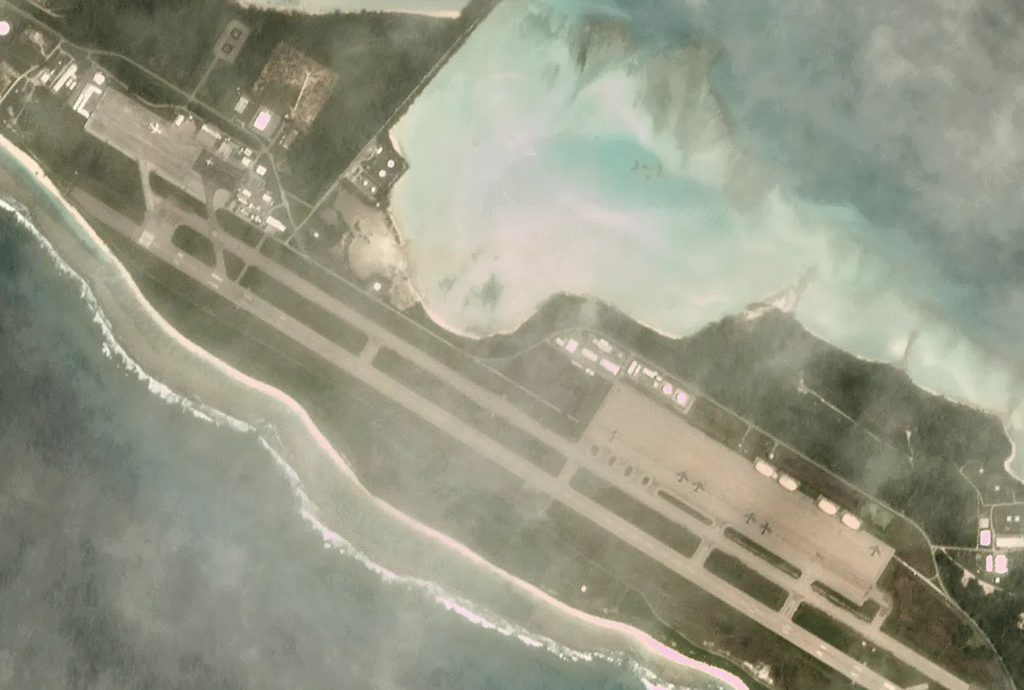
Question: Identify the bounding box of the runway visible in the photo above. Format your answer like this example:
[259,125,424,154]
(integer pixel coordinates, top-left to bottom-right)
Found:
[140,231,902,690]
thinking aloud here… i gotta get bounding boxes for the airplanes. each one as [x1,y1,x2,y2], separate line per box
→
[693,482,702,492]
[759,524,769,534]
[869,546,879,556]
[149,122,160,132]
[744,514,754,523]
[677,473,687,483]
